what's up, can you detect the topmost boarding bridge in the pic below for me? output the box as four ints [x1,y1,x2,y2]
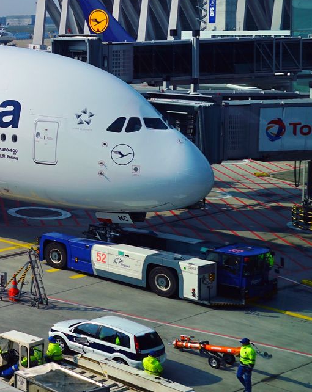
[42,18,296,87]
